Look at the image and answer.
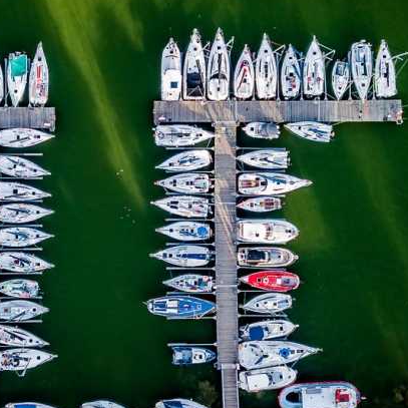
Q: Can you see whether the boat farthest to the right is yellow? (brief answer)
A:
No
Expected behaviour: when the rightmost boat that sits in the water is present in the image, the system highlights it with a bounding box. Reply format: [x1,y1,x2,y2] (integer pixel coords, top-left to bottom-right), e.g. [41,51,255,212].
[372,39,407,102]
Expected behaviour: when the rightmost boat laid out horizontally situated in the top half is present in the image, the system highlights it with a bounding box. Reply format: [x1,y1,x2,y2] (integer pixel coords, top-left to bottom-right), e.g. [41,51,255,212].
[283,122,338,142]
